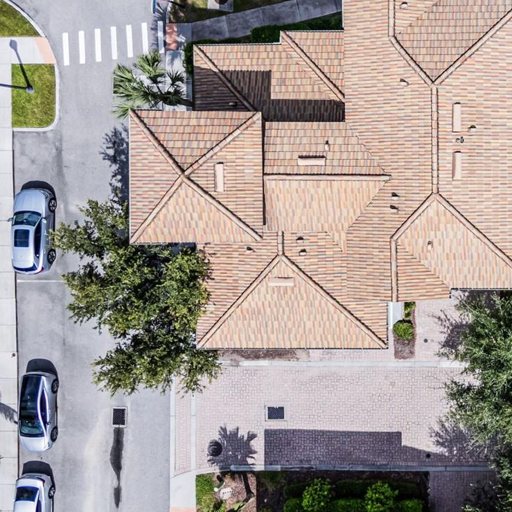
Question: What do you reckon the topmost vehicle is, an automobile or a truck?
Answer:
automobile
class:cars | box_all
[9,370,58,450]
[10,472,54,512]
[5,187,56,273]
